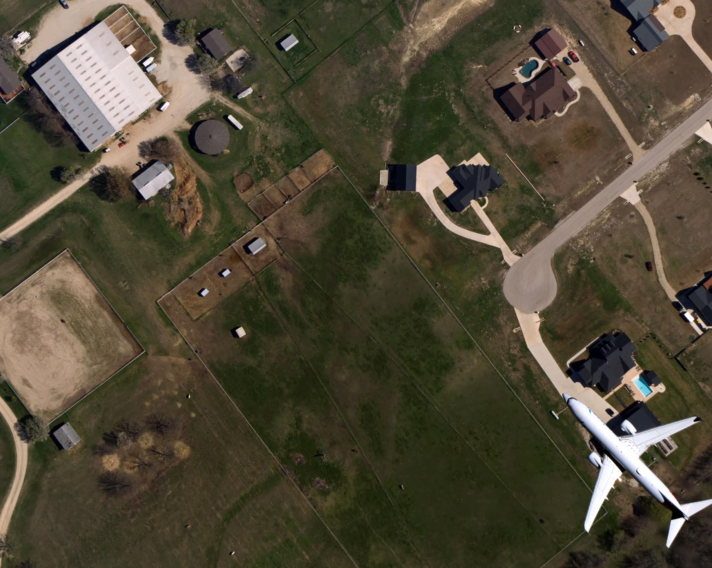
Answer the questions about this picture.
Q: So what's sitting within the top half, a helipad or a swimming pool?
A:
swimming pool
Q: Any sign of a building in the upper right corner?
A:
Yes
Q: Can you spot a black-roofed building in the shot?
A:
Yes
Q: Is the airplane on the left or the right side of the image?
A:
right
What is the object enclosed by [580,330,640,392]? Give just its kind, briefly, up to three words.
house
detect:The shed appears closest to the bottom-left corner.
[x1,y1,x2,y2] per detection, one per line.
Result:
[55,422,80,450]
